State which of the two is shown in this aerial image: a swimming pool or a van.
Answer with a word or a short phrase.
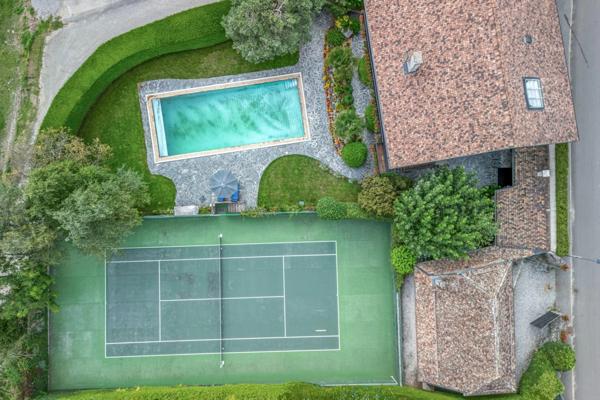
swimming pool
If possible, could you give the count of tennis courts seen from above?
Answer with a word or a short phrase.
one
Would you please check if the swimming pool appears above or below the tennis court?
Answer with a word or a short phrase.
above it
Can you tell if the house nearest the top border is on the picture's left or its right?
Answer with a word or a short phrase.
right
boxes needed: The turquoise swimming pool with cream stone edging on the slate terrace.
[145,71,310,163]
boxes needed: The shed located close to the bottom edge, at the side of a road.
[411,249,548,396]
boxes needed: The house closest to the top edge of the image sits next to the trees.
[361,0,580,169]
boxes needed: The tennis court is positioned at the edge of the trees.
[47,217,399,391]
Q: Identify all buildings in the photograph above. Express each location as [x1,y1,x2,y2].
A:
[361,0,580,169]
[411,249,548,396]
